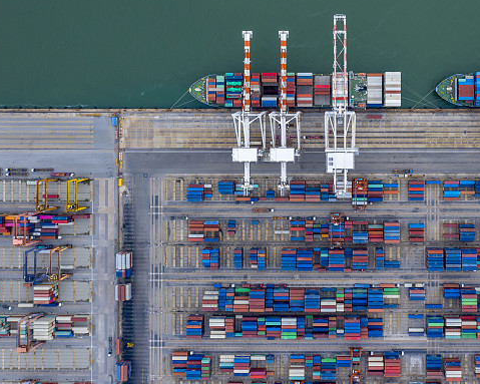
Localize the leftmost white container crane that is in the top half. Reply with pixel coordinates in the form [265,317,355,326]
[232,30,269,197]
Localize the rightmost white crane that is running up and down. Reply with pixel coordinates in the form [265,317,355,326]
[321,14,360,199]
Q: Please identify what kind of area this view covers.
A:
port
